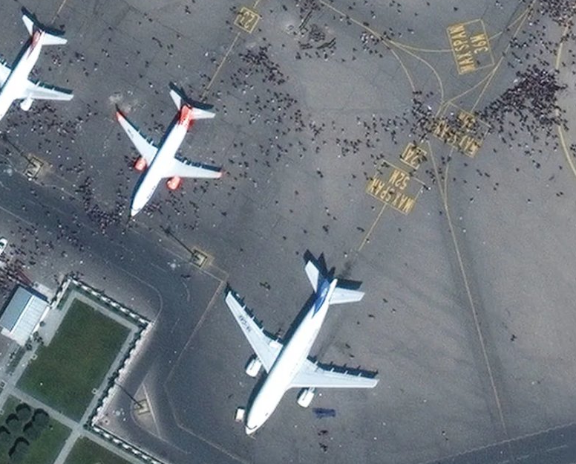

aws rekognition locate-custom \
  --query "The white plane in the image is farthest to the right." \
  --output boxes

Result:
[227,261,377,435]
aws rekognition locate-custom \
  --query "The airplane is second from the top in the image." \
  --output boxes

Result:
[115,87,220,217]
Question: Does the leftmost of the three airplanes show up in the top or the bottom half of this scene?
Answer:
top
